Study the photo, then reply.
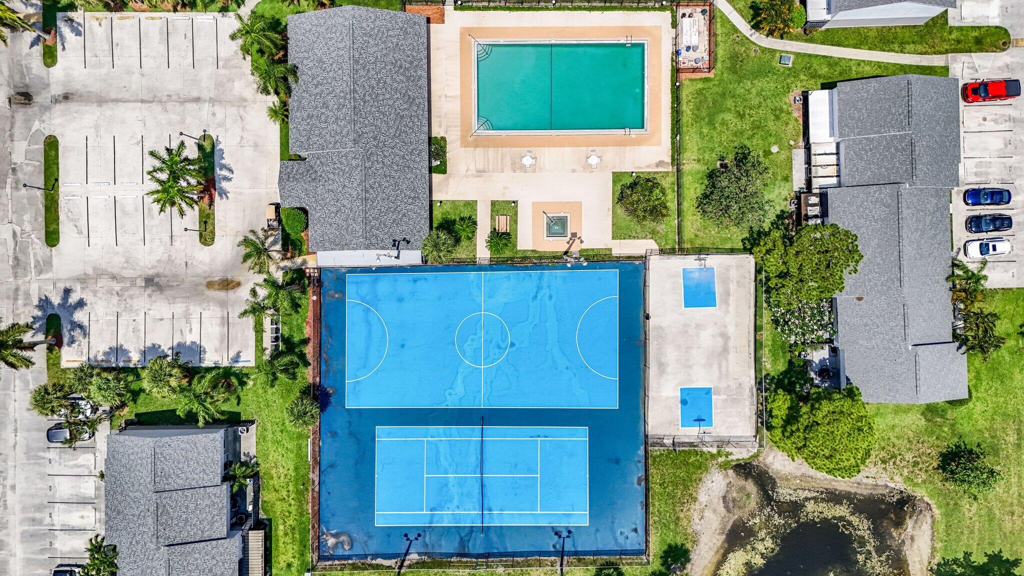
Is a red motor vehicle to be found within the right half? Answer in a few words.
Yes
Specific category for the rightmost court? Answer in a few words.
basketball court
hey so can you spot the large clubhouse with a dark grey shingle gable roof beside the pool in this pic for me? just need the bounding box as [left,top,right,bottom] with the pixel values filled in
[278,7,431,266]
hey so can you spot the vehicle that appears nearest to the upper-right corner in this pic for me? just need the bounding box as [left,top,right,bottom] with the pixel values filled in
[960,80,1020,104]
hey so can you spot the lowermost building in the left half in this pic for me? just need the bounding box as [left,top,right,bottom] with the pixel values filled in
[104,424,249,576]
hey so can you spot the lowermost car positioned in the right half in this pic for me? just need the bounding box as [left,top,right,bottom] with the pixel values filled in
[962,238,1011,259]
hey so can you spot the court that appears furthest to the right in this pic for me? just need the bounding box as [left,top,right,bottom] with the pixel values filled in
[647,254,757,444]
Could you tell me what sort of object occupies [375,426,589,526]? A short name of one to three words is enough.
tennis court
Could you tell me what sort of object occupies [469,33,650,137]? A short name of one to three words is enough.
swimming pool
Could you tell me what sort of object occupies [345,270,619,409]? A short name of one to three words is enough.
sports court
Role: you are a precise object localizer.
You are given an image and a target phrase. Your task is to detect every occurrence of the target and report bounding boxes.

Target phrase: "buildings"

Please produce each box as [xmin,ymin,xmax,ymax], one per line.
[278,7,431,266]
[822,0,956,27]
[816,75,968,404]
[104,424,249,576]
